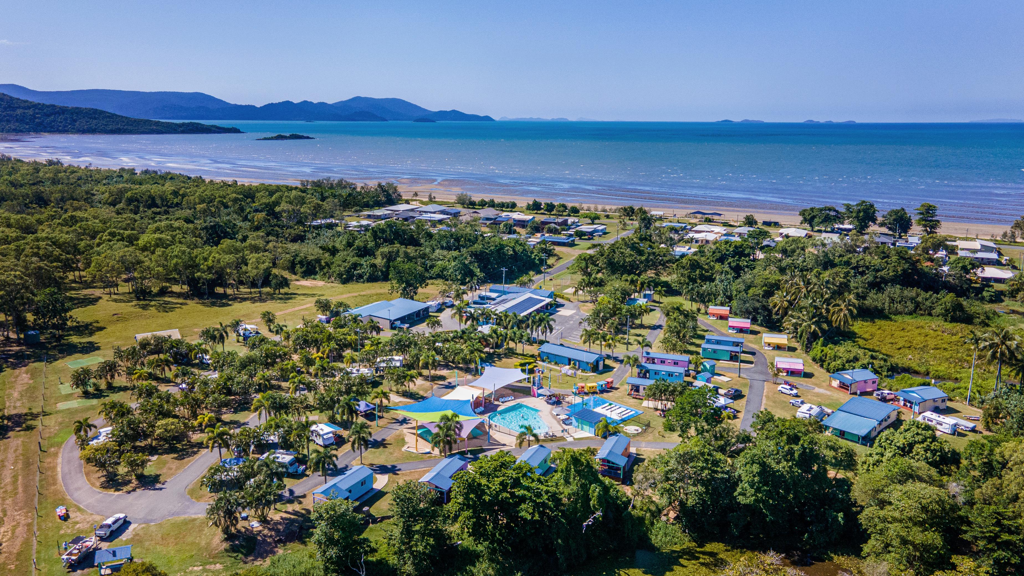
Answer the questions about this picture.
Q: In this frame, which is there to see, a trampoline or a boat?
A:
boat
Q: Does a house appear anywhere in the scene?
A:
Yes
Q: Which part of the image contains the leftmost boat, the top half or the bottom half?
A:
bottom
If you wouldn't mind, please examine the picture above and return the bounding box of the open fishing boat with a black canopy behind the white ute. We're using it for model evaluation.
[54,535,96,570]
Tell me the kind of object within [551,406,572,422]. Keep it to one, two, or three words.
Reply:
umbrella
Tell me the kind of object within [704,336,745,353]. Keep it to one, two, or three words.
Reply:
building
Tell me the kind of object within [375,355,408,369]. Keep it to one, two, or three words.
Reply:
camper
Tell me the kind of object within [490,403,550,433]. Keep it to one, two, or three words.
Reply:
swimming pool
